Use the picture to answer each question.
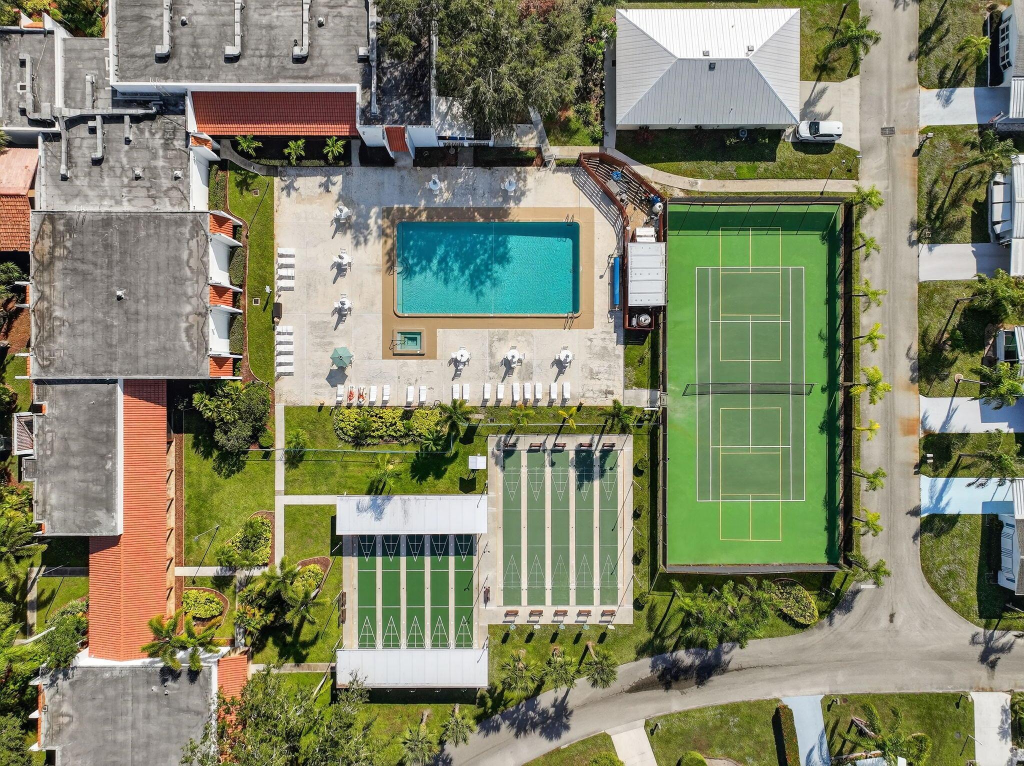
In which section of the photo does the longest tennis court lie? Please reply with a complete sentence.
Look in the right portion of the view to spot the longest tennis court.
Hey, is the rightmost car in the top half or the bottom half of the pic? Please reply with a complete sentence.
Seen from above, the rightmost car lies in the top half of the view.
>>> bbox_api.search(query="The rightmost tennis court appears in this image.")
[666,203,841,565]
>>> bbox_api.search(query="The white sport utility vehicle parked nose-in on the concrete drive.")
[792,119,843,144]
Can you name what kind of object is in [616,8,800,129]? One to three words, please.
house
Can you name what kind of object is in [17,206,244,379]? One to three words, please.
building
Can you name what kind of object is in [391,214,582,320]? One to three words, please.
swimming pool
